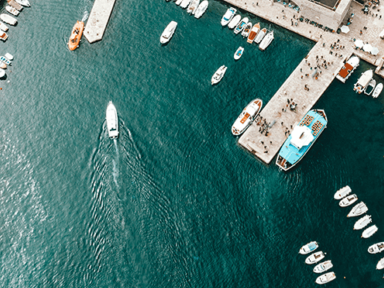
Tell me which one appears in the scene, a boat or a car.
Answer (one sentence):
The one in the frame is a boat.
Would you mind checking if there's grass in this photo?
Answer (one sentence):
No, the scene doesn't show any grass.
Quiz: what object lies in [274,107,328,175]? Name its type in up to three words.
vessel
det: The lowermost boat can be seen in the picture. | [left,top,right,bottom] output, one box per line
[316,268,339,286]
